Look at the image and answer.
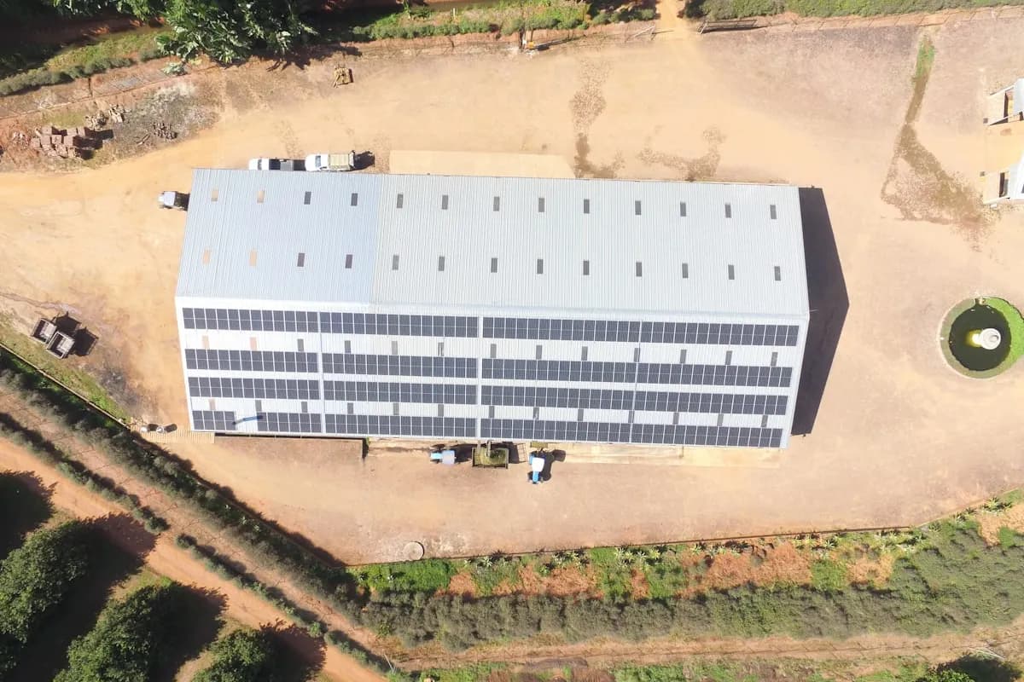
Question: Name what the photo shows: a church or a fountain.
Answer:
fountain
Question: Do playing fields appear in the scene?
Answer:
No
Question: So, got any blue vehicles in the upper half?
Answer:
No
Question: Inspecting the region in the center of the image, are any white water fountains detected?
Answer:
No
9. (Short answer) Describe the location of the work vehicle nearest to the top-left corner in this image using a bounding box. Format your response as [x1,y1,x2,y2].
[152,187,189,208]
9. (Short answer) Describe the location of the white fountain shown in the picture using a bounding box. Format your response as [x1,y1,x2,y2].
[967,325,1002,349]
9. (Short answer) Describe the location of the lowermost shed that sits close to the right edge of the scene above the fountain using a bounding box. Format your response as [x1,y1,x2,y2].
[978,137,1024,205]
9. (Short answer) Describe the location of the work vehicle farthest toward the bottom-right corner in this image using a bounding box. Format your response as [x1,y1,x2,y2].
[529,442,547,481]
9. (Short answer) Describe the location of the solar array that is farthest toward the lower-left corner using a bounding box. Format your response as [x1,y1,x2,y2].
[190,410,236,430]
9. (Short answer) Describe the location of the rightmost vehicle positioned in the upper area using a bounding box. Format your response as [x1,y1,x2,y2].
[305,147,358,172]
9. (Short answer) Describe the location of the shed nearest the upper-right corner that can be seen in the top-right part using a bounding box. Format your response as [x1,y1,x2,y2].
[984,78,1024,127]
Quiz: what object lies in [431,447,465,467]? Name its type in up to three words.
work vehicle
